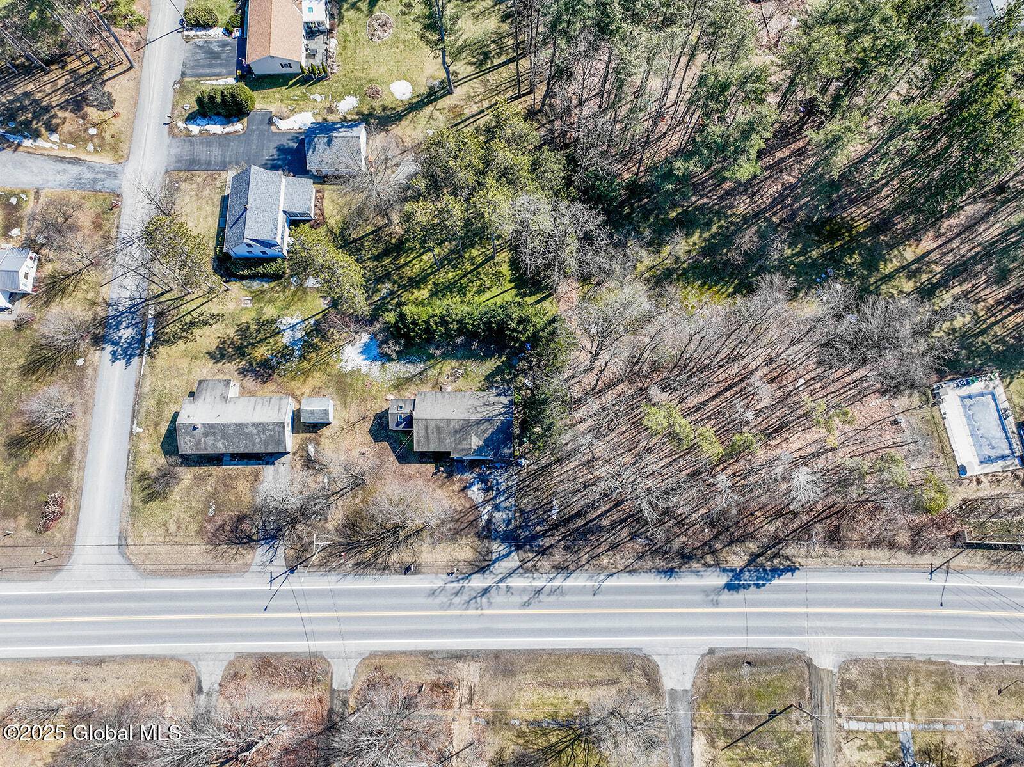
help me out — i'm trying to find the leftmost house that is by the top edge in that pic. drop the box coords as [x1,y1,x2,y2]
[246,0,331,73]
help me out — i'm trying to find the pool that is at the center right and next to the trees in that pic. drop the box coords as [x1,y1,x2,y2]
[932,376,1024,477]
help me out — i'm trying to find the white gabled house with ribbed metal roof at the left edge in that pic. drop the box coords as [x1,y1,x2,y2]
[0,247,37,302]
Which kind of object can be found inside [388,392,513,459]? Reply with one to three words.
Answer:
house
